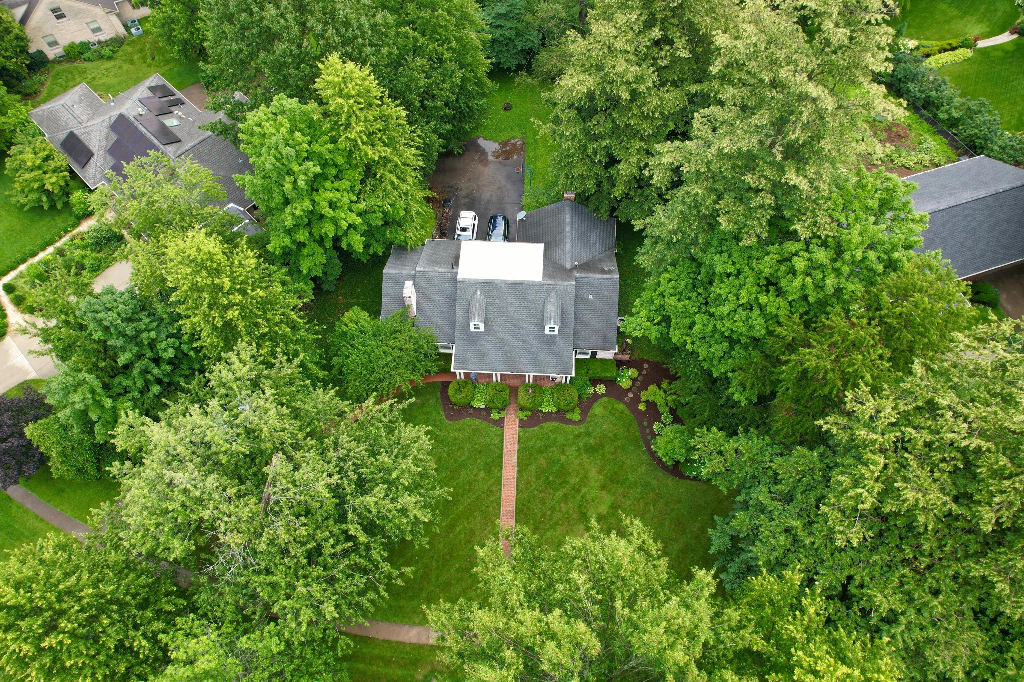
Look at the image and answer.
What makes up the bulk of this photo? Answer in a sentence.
For the most part, this view shows trees.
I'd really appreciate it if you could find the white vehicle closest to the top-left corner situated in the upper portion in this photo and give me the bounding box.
[453,210,479,240]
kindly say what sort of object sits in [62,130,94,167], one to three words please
solar panel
